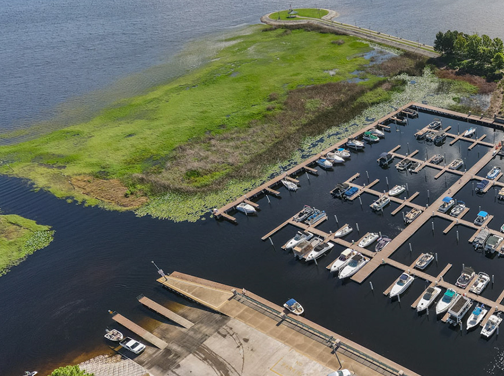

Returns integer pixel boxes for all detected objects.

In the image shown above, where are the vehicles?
[330,371,350,376]
[119,339,147,352]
